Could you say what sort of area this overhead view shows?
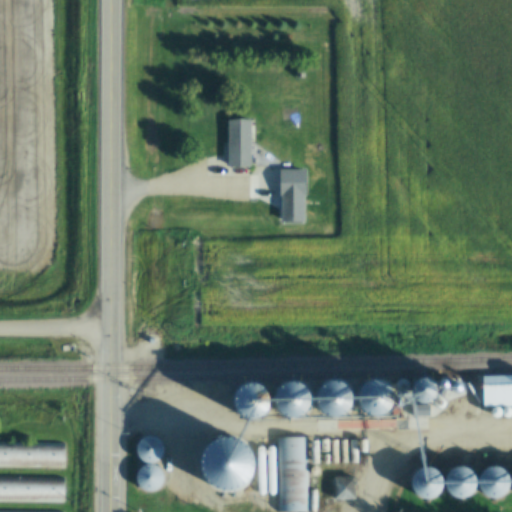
industrial area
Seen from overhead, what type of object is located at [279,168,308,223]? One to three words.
house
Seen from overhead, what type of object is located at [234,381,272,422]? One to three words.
silo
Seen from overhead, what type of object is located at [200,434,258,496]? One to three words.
silo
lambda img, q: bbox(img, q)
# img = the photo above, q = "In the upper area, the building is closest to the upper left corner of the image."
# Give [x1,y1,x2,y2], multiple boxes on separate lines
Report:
[229,119,252,167]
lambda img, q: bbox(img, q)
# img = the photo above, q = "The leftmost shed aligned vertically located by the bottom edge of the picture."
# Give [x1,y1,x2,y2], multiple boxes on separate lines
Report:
[278,436,309,512]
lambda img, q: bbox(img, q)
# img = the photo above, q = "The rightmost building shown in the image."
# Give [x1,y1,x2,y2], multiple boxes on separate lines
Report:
[483,376,512,404]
